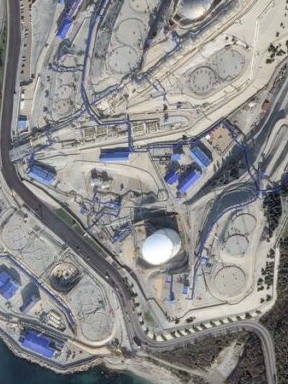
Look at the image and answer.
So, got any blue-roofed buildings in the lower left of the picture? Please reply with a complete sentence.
Yes, there is a blue-roofed building in the lower left of the picture.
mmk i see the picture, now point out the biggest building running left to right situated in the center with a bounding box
[98,148,131,162]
